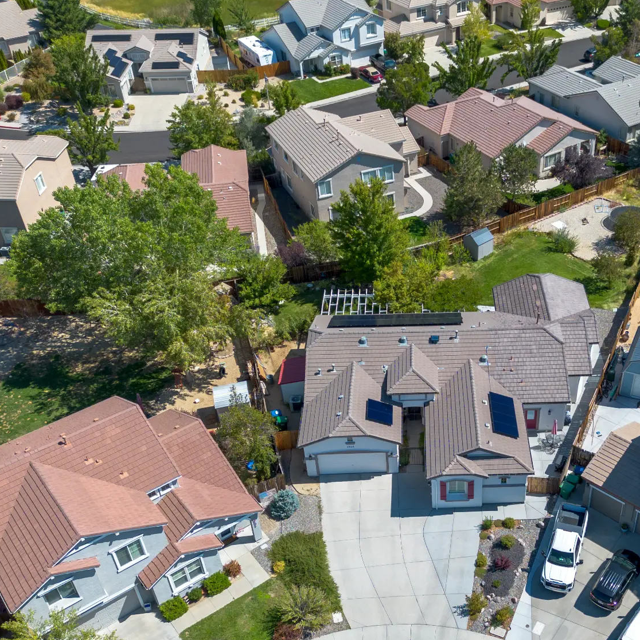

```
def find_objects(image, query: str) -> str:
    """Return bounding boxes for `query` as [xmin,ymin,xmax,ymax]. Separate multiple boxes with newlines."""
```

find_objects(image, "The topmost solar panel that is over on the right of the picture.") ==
[330,314,461,327]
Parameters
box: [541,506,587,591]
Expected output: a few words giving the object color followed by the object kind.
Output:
white truck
